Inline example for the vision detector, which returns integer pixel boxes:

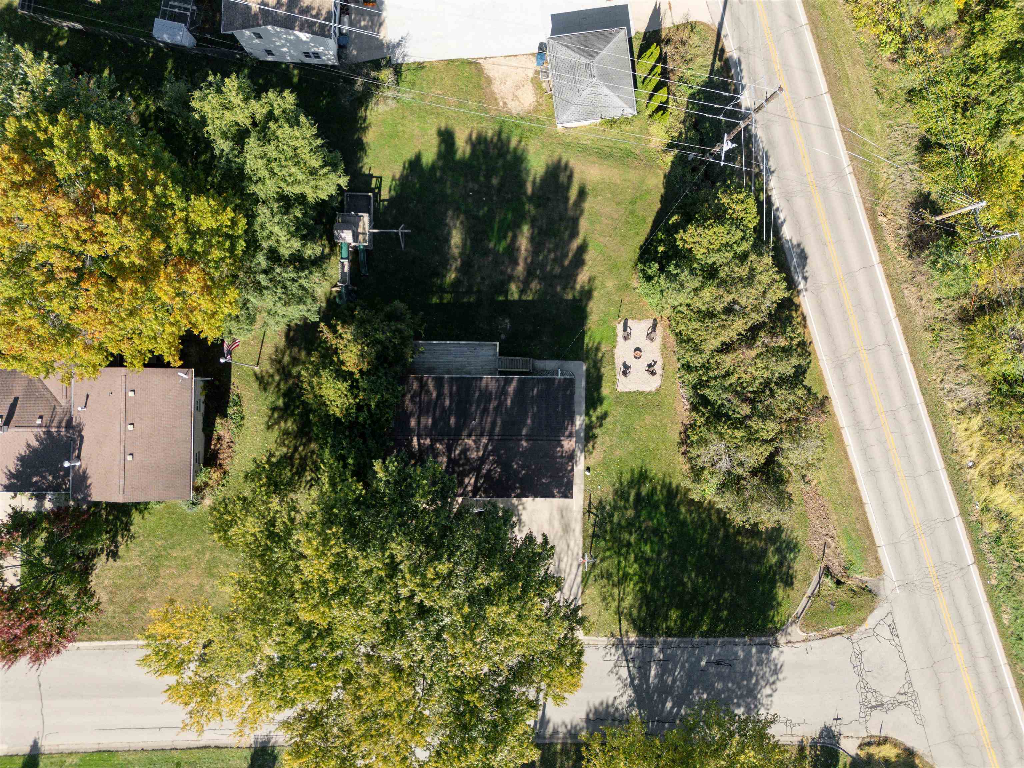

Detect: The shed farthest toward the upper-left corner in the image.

[153,18,200,60]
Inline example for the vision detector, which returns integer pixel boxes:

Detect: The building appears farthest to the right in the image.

[546,26,638,131]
